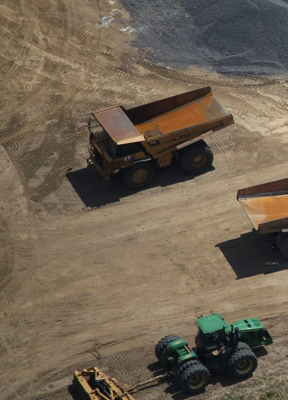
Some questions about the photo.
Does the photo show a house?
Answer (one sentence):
No, the scene contains no house.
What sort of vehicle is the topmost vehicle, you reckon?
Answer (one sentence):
Looking closely, the topmost vehicle is a truck.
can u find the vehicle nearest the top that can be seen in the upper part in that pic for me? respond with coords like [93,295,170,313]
[85,83,234,189]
